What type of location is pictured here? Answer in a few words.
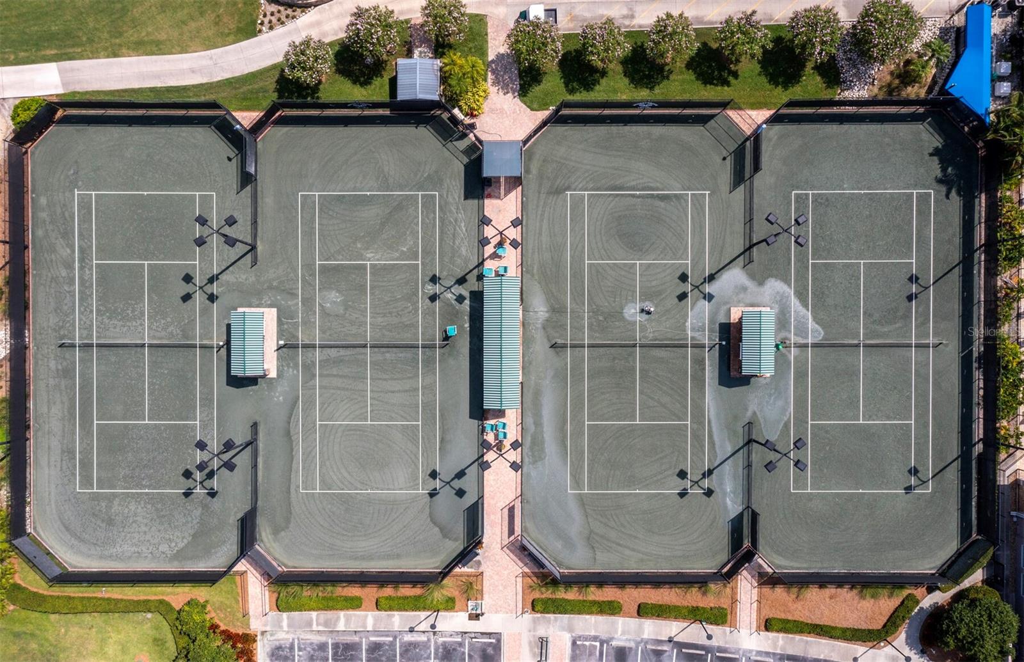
sports ground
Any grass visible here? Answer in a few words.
Yes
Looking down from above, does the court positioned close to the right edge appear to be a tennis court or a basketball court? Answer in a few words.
tennis court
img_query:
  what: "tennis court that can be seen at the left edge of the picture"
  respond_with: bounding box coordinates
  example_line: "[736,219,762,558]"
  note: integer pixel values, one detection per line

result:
[29,110,257,571]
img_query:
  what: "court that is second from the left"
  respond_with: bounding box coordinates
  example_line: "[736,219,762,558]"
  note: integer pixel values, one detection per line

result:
[257,109,485,572]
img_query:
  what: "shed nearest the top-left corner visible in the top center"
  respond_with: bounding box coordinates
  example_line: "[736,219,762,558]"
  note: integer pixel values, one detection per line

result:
[398,56,441,102]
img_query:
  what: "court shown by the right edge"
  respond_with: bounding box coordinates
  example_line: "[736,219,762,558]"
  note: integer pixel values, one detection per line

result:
[748,108,981,574]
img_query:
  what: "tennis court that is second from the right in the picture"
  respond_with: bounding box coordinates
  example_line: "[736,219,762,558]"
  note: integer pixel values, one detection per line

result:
[520,110,749,573]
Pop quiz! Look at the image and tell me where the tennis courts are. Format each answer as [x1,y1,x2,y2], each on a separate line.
[29,110,257,571]
[520,110,749,573]
[257,109,485,572]
[748,108,981,574]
